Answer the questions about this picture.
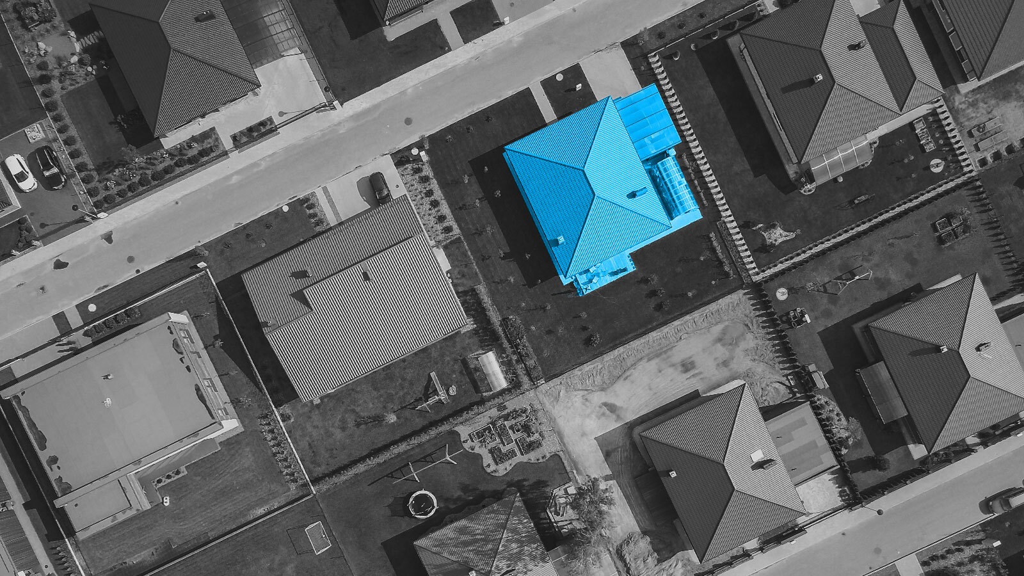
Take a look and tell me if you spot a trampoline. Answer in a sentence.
Yes, this view includes a trampoline.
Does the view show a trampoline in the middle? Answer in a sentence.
No, I see no trampoline in the middle.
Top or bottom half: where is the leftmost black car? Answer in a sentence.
Seen from above, the leftmost black car lies in the top half of the view.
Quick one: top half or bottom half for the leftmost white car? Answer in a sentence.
The leftmost white car sits in the top half of the picture.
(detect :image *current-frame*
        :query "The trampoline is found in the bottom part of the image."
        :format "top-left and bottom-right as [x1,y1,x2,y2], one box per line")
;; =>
[406,491,437,523]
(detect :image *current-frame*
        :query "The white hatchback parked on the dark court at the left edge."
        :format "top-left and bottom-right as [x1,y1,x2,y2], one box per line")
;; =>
[3,151,32,191]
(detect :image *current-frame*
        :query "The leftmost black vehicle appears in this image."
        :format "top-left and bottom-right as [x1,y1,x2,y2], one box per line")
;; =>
[28,144,61,188]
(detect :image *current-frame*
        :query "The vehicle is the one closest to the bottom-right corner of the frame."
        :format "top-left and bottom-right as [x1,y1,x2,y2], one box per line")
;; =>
[985,481,1024,514]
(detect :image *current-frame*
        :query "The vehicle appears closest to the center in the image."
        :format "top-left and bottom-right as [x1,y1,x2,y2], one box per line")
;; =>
[367,166,394,206]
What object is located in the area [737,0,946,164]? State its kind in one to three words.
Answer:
house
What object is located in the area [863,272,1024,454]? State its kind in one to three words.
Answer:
house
